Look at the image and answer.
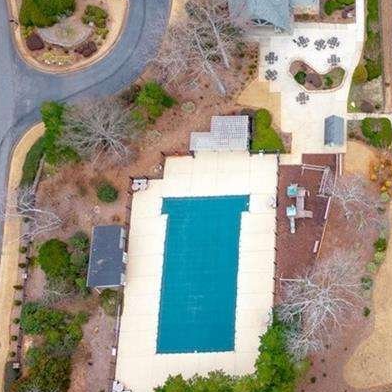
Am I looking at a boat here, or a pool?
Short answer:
pool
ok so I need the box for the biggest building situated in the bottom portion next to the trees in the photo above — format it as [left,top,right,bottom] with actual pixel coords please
[86,226,131,287]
